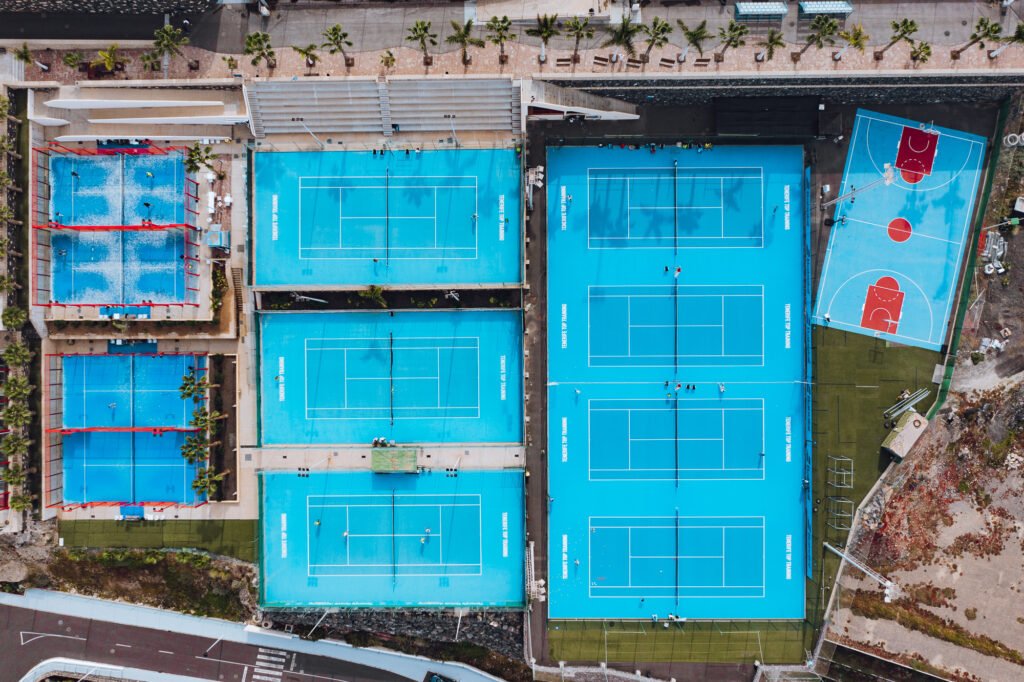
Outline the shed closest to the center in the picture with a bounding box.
[372,446,419,471]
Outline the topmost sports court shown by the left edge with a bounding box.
[28,144,201,229]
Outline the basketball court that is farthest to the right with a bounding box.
[812,108,988,351]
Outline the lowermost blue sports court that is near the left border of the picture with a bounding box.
[42,430,208,514]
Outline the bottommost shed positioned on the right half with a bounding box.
[881,411,928,458]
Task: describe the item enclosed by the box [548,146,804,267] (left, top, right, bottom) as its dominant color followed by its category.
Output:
blue tennis court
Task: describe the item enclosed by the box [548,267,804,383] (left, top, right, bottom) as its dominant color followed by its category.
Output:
blue tennis court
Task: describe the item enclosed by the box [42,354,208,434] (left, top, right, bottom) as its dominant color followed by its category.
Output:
blue sports court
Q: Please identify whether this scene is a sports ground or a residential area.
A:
sports ground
